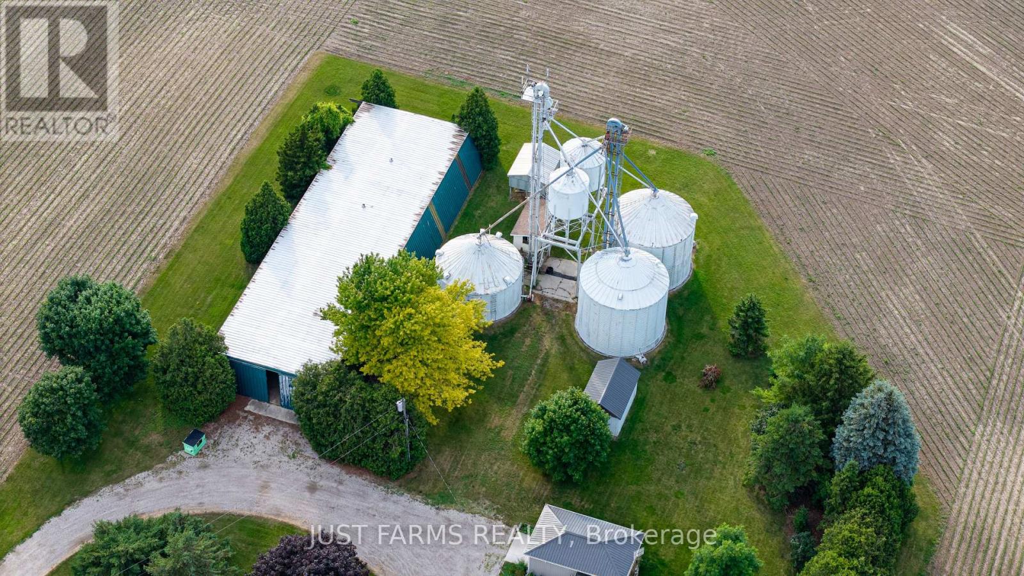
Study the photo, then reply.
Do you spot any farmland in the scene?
Yes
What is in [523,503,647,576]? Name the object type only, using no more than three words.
building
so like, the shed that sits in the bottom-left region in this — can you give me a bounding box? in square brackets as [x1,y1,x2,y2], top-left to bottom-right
[178,425,207,456]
